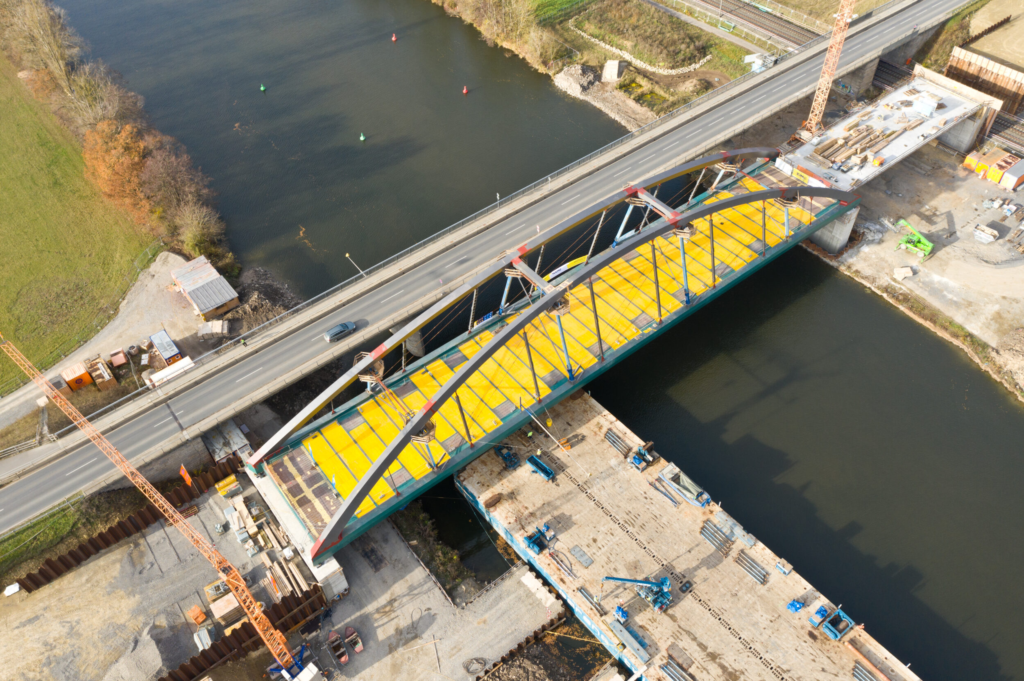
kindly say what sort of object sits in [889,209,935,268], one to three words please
work vehicle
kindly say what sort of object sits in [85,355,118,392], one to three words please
shipping container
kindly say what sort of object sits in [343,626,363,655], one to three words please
boat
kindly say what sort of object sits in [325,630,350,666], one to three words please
boat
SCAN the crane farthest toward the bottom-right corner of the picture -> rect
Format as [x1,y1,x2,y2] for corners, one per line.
[599,571,676,615]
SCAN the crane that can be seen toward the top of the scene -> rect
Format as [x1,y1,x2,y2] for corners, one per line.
[788,0,855,139]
